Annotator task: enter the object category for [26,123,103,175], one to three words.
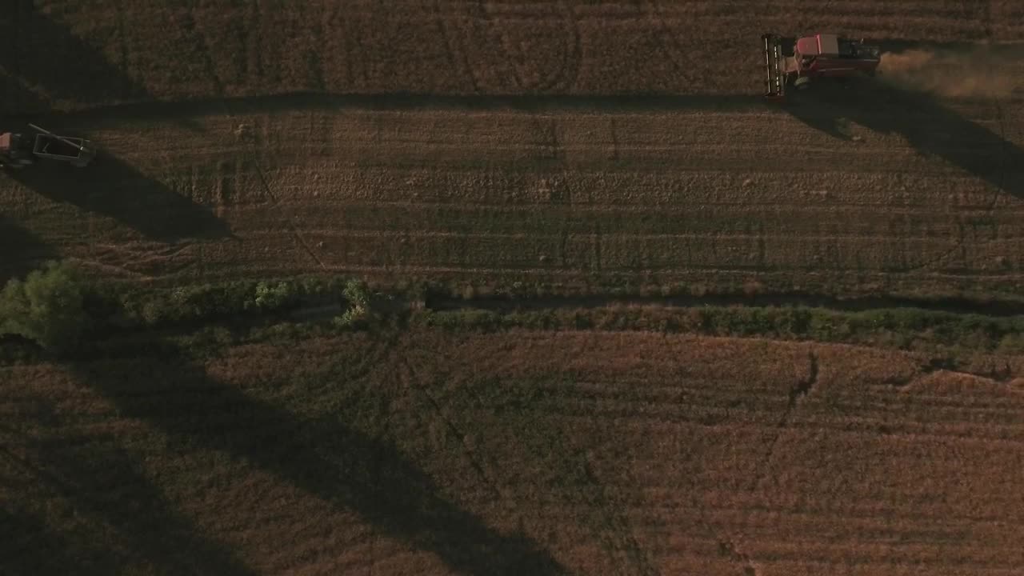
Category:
trailer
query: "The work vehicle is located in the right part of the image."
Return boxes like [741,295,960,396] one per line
[761,31,879,106]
